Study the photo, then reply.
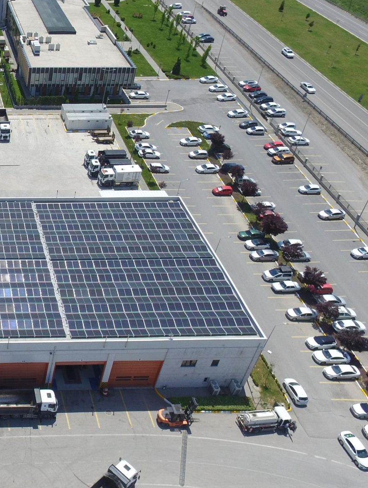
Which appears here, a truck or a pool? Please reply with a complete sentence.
I can see a truck in this picture.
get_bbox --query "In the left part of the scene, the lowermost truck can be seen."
[99,451,142,488]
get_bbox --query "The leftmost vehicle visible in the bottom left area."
[0,392,63,426]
